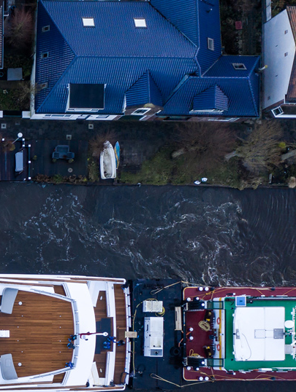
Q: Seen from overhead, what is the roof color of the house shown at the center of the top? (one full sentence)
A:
From above, the roof of the house shown at the center of the top looks blue.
